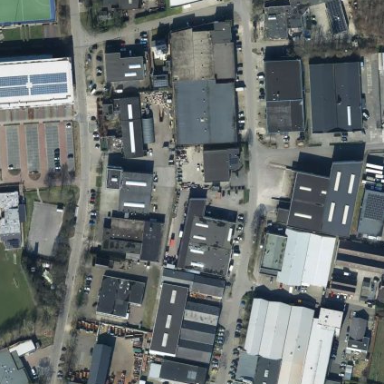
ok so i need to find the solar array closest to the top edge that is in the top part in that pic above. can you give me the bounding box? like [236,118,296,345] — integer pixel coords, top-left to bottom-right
[327,1,347,32]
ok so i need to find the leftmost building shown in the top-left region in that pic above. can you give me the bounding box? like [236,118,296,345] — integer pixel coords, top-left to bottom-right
[0,58,74,112]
